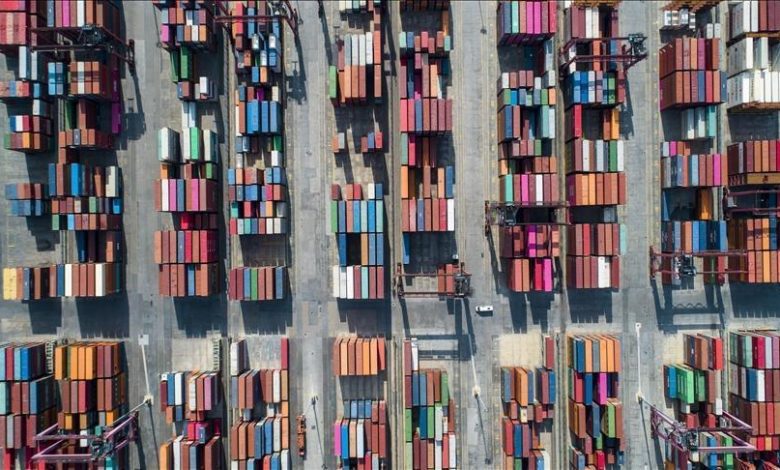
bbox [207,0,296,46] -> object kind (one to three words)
container crane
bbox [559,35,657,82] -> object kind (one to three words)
container crane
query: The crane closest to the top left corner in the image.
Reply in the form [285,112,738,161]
[24,25,132,72]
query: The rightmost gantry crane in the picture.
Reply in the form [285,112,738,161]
[726,190,780,219]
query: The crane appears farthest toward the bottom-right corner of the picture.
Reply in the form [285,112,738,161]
[653,404,759,452]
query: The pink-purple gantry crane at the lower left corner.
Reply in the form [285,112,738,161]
[30,411,137,462]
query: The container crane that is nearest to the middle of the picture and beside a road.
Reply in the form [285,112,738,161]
[394,264,475,299]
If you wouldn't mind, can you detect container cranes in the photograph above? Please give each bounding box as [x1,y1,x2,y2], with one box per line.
[486,199,574,232]
[207,0,296,46]
[726,190,780,219]
[24,25,132,72]
[653,404,759,452]
[394,264,475,299]
[651,245,756,276]
[559,35,657,82]
[30,411,137,462]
